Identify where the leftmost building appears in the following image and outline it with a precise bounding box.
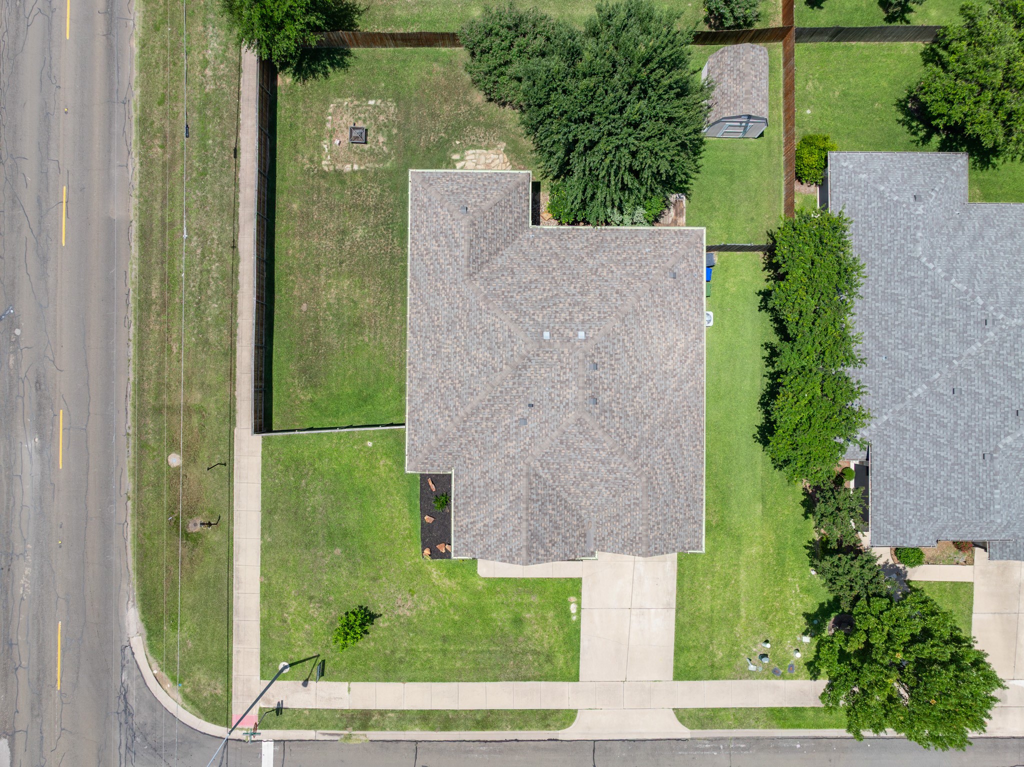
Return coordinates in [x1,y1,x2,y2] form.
[406,167,708,566]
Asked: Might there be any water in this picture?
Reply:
No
